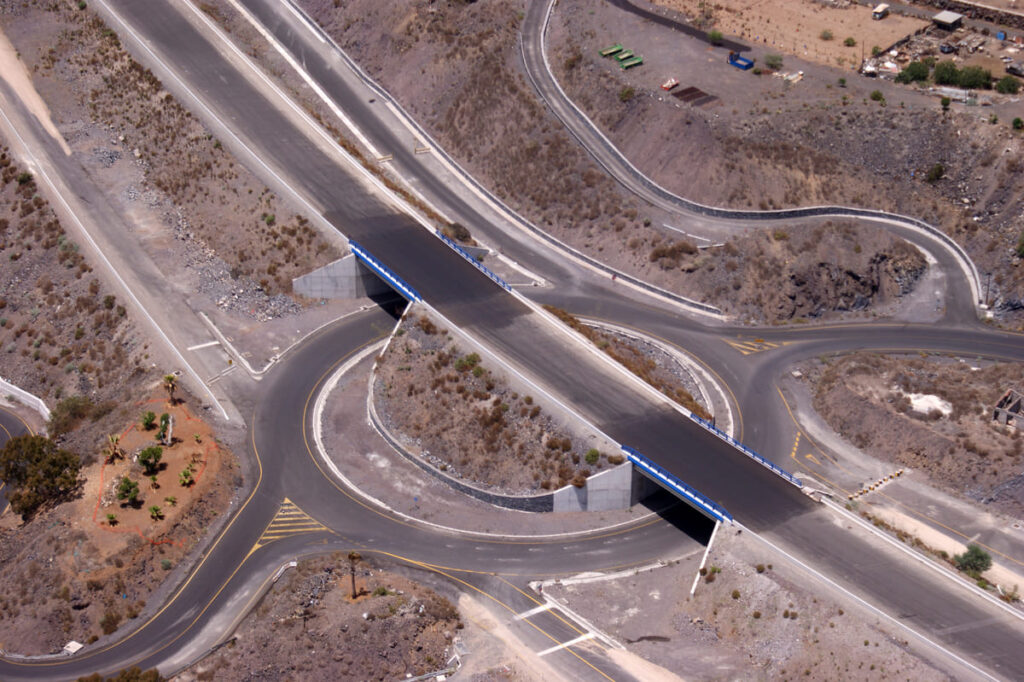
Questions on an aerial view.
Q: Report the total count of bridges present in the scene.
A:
2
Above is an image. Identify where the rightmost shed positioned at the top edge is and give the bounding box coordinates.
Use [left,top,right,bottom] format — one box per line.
[933,13,965,35]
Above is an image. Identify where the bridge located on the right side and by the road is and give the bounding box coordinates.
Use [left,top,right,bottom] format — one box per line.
[552,408,804,600]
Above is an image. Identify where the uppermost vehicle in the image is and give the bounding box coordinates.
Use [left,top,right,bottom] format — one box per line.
[870,5,888,20]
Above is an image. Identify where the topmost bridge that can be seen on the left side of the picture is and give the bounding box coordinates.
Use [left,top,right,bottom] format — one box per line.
[293,224,519,399]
